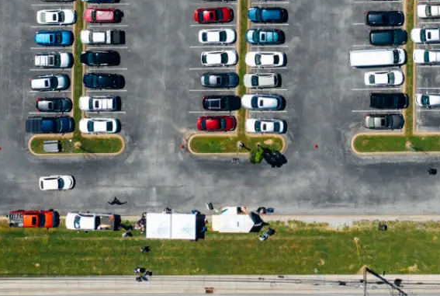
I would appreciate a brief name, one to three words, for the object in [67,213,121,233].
vehicle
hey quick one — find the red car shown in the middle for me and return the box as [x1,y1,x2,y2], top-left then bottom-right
[198,115,236,133]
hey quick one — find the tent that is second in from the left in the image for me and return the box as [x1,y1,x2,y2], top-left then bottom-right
[172,209,198,240]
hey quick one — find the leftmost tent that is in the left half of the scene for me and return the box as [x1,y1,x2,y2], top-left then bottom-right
[146,209,173,240]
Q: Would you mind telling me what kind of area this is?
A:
parking lot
